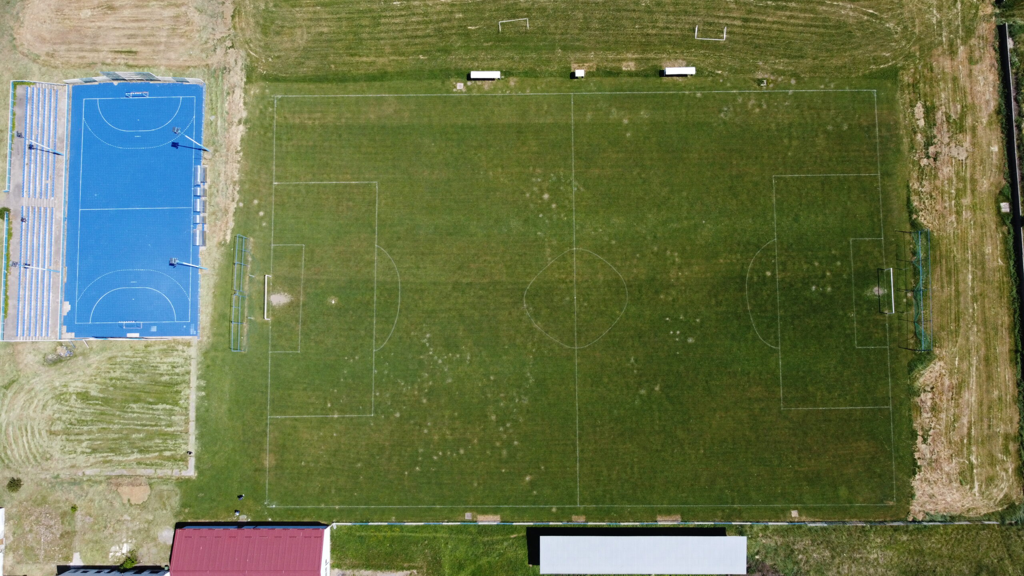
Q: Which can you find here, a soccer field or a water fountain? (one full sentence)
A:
It is a soccer field that can be seen here.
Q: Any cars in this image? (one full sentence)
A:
No, I can see no car in this picture.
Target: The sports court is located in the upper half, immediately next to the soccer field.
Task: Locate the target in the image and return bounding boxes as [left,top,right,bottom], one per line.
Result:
[60,81,206,340]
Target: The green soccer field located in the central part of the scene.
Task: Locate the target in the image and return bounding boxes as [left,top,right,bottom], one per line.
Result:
[250,87,901,514]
